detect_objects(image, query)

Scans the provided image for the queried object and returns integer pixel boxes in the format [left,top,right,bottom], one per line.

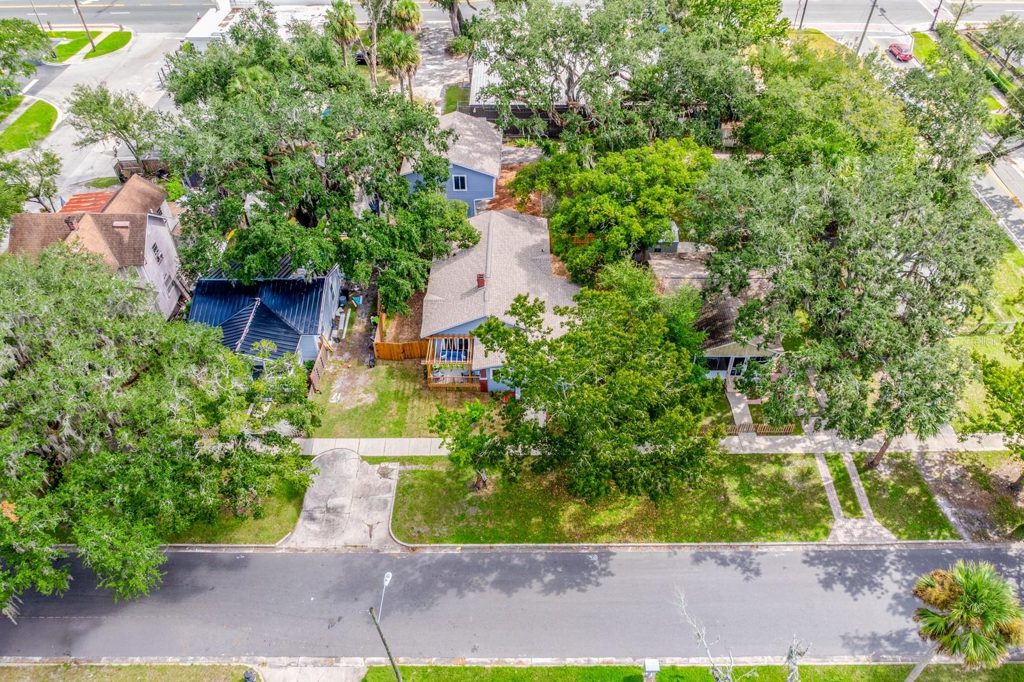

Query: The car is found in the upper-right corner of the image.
[889,47,918,63]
